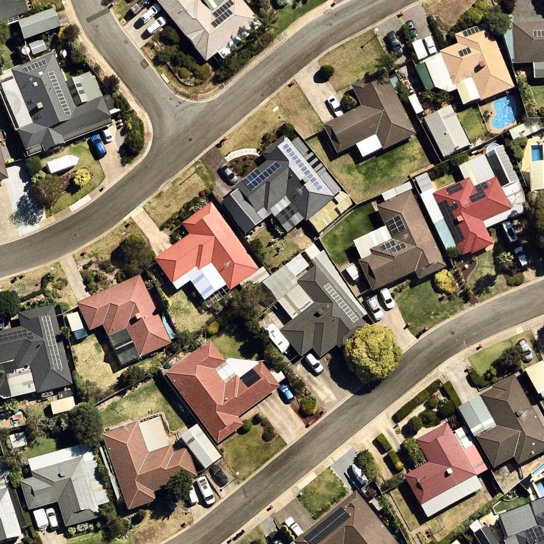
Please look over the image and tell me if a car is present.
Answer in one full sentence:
Yes, the picture does show a car.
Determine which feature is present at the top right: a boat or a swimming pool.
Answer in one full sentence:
There is a swimming pool at the top right.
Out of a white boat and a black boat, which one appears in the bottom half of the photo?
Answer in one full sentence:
What appears in the bottom half of the photo is a white boat.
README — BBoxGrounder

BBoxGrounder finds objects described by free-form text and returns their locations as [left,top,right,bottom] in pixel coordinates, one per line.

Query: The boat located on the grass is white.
[44,156,78,176]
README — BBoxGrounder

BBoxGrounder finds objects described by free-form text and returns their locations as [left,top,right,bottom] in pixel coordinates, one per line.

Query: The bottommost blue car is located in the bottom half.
[279,384,294,403]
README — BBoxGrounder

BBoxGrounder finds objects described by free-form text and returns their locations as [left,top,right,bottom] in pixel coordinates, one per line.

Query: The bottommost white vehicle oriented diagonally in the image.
[284,515,303,539]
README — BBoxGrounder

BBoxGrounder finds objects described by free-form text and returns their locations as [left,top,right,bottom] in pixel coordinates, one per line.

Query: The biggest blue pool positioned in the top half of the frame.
[488,90,518,131]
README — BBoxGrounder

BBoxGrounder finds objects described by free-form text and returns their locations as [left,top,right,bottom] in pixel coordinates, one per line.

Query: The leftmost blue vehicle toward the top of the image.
[91,134,104,158]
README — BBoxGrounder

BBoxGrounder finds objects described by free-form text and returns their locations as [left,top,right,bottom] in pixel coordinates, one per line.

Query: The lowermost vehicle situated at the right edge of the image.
[519,339,532,362]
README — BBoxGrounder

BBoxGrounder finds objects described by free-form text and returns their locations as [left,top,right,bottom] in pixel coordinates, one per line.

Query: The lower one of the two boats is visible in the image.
[351,463,367,484]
